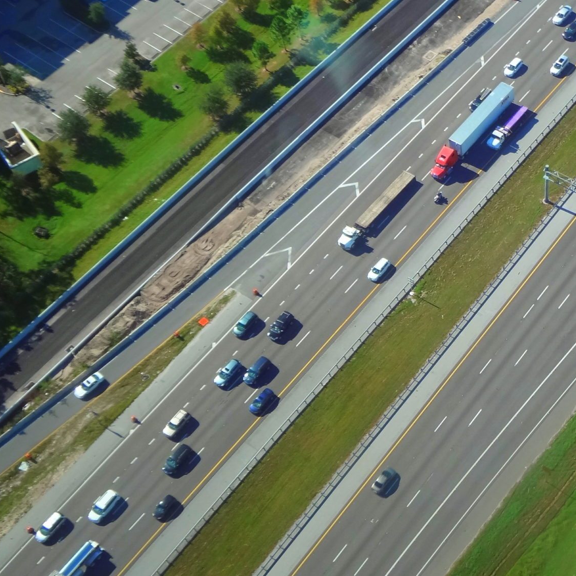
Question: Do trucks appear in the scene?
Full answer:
Yes, a truck appears in the view.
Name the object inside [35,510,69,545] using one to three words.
car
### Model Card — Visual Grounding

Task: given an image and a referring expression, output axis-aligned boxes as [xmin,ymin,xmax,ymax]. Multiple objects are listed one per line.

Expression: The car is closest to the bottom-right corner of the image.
[369,466,400,500]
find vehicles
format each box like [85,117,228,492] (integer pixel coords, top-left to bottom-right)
[550,54,571,76]
[504,58,525,78]
[486,105,532,153]
[232,310,261,339]
[554,5,575,25]
[367,256,393,283]
[71,375,108,399]
[241,354,273,387]
[87,487,123,524]
[213,359,242,389]
[429,79,516,182]
[161,442,195,476]
[35,510,69,545]
[468,80,495,111]
[369,466,400,500]
[162,408,193,440]
[336,156,428,251]
[563,20,576,41]
[265,307,299,343]
[48,529,108,576]
[249,388,277,416]
[151,493,182,525]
